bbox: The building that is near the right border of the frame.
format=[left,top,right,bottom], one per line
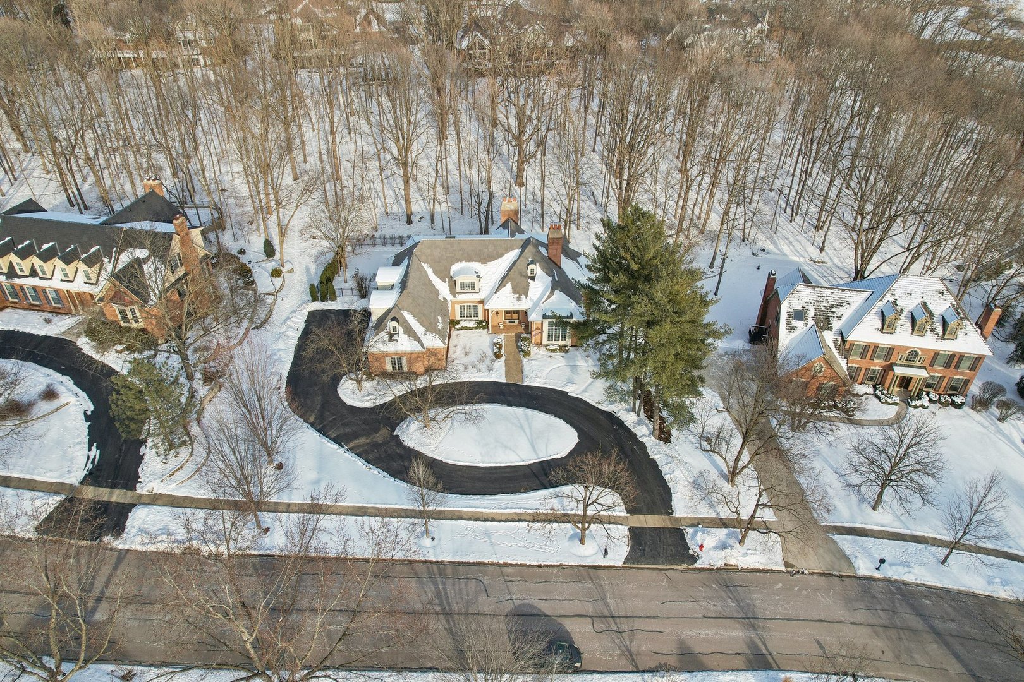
[744,252,994,400]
